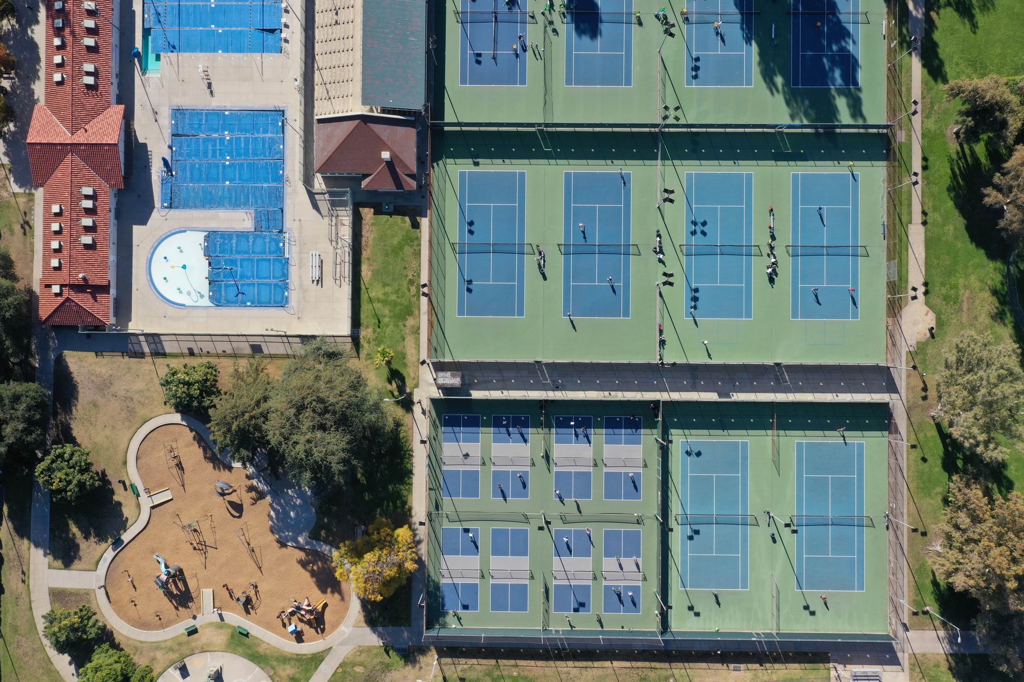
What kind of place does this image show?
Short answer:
sports ground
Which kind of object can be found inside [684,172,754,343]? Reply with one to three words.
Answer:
tennis court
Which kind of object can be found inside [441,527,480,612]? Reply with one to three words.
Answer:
sports court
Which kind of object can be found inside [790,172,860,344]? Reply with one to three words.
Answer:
tennis court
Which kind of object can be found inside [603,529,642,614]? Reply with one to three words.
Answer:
sports court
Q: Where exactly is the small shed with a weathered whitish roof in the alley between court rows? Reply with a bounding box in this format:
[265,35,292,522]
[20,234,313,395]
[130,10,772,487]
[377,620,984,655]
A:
[436,371,462,387]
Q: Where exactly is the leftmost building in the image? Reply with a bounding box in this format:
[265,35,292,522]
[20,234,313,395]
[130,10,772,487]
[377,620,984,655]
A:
[26,0,130,326]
